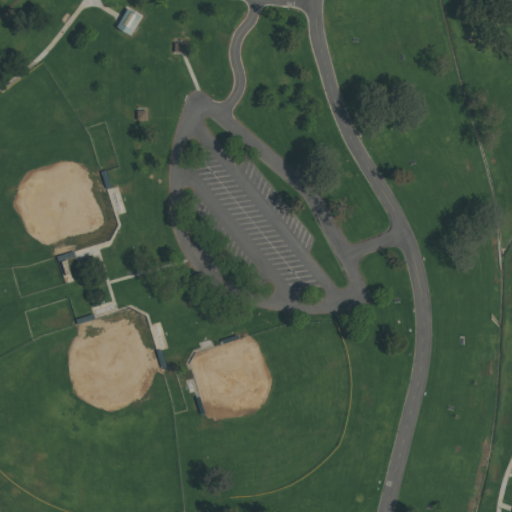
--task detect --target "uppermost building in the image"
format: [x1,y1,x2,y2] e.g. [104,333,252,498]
[116,6,143,36]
